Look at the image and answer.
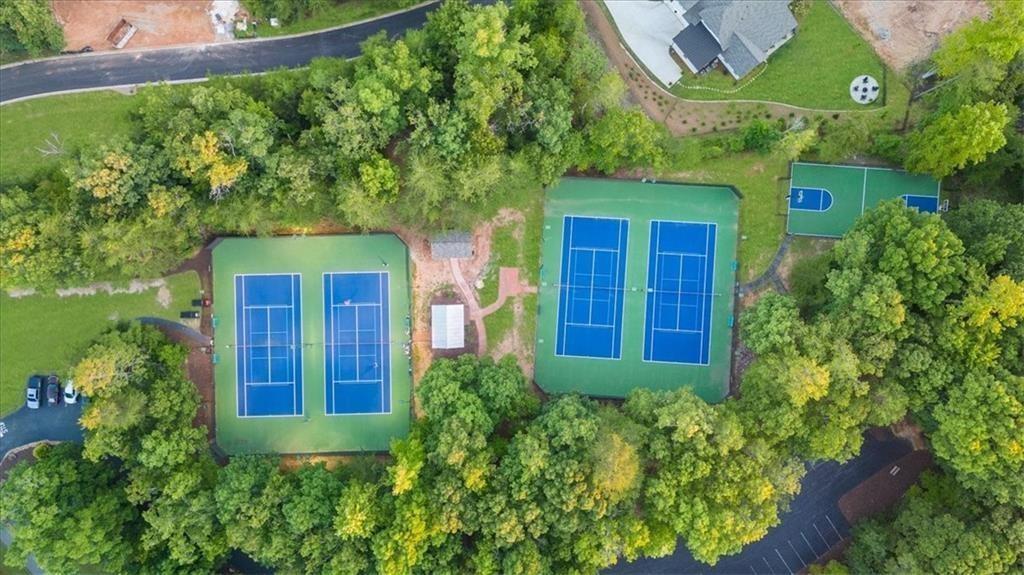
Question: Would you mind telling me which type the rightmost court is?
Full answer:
It turns out the rightmost court is a basketball court.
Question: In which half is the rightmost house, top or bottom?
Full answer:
It is in the top half that the rightmost house appears.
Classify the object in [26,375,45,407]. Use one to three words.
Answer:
car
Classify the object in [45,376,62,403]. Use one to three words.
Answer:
car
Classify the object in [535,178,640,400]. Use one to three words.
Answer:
tennis court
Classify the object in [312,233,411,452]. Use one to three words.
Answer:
tennis court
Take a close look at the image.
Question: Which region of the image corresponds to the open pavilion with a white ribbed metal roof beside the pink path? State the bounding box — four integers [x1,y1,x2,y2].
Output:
[431,304,465,350]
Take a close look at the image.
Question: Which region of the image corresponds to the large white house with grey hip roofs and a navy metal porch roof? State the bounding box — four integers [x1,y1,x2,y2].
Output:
[663,0,802,82]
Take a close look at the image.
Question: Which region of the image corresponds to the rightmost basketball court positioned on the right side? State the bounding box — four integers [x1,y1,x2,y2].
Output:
[786,162,942,248]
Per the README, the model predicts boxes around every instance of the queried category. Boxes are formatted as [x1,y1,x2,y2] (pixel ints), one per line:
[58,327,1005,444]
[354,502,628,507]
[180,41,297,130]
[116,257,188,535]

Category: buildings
[663,0,802,82]
[431,304,465,350]
[431,234,472,259]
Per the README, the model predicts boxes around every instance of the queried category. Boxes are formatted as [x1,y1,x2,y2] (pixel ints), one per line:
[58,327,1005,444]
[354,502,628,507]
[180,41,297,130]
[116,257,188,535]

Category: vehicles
[191,299,210,306]
[64,378,79,405]
[45,376,62,403]
[182,310,201,318]
[26,375,45,407]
